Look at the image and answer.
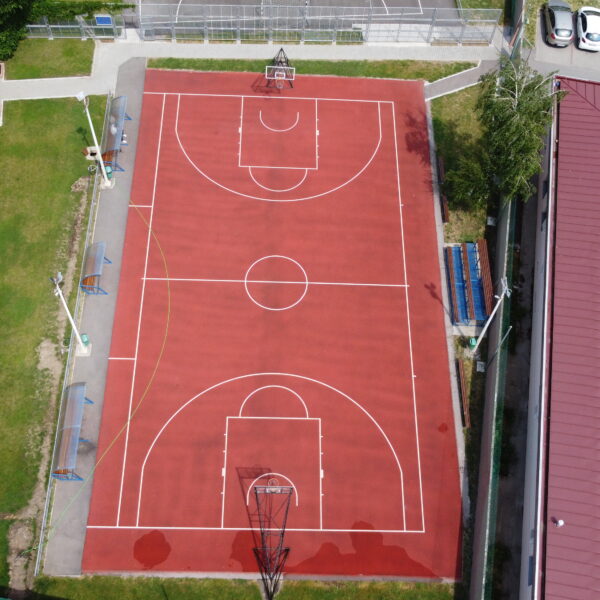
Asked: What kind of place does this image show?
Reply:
sports ground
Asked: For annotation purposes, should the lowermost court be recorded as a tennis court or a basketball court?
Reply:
basketball court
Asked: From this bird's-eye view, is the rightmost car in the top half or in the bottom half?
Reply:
top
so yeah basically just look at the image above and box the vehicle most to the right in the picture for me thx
[578,5,600,50]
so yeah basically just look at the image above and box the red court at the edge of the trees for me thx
[81,67,473,584]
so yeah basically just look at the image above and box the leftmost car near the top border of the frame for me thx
[546,0,579,45]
